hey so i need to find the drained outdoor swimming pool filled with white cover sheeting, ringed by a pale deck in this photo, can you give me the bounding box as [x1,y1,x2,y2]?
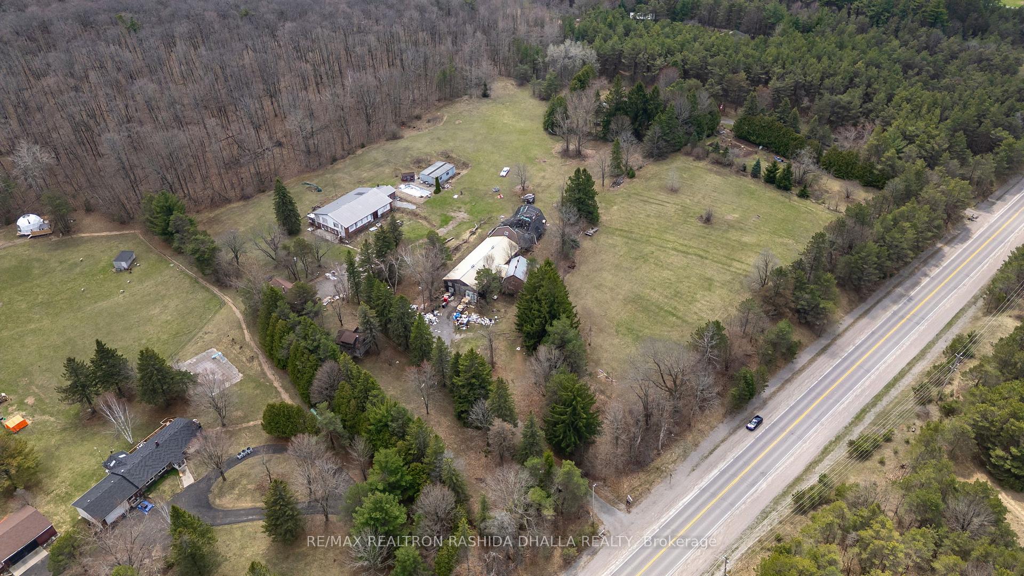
[395,179,441,204]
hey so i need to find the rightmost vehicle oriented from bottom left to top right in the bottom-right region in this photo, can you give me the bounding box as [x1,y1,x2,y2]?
[744,413,766,433]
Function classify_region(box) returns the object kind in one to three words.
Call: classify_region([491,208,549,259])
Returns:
barn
